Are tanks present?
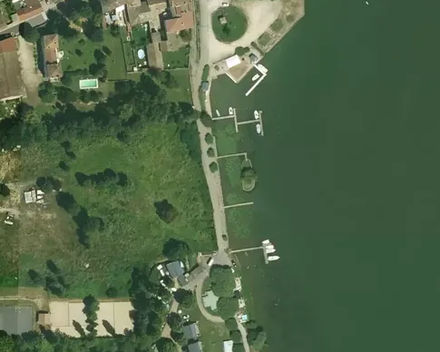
No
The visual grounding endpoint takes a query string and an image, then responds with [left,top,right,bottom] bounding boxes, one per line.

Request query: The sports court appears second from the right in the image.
[89,303,114,337]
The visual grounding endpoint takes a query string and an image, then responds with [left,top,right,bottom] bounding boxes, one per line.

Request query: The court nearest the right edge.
[114,302,133,338]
